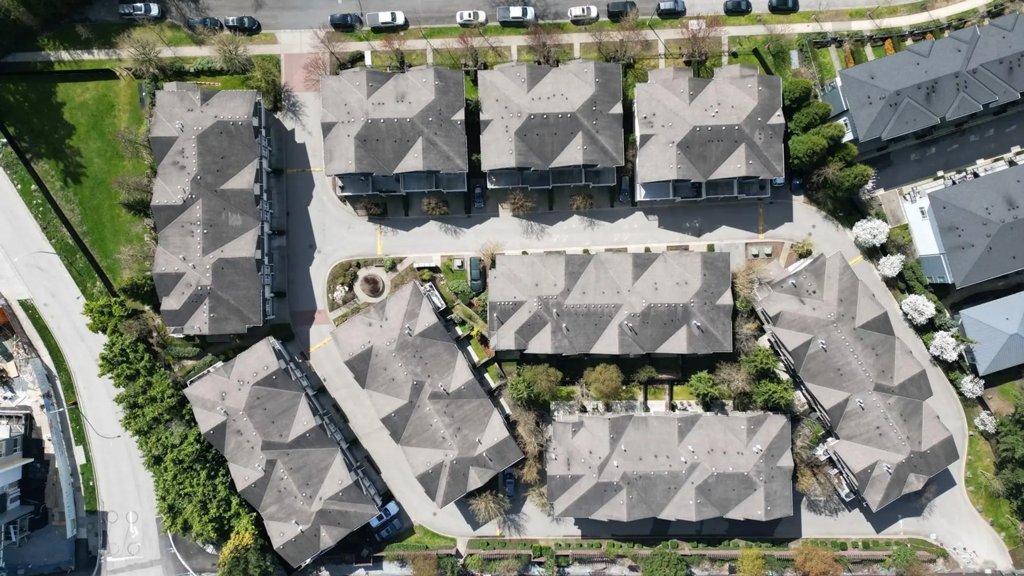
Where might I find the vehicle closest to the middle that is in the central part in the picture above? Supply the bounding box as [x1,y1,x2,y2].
[469,258,484,292]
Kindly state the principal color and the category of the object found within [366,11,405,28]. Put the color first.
white vehicle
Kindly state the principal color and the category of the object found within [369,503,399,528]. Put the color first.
blue car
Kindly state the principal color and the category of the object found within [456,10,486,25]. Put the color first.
white car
